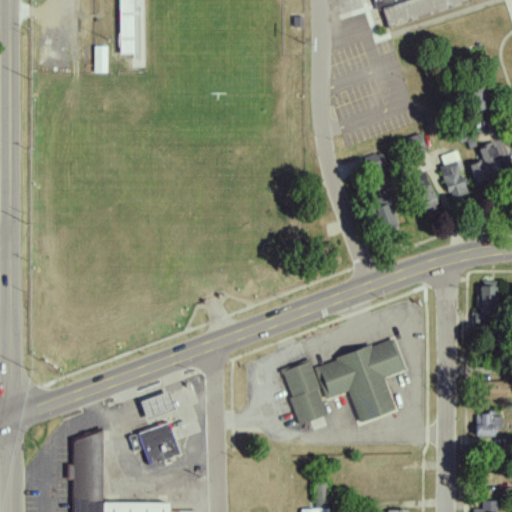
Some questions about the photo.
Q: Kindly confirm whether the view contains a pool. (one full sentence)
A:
No, this view has no pool in it.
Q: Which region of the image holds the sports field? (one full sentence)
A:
The sports field is located in the top region of the scene.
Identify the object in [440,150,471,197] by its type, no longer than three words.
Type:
house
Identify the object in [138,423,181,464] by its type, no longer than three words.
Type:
building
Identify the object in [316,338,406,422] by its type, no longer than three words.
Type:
building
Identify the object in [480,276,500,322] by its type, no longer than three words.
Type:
house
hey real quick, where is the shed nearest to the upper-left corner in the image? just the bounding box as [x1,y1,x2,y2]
[93,45,109,74]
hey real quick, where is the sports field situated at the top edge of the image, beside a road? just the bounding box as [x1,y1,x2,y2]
[150,0,281,100]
